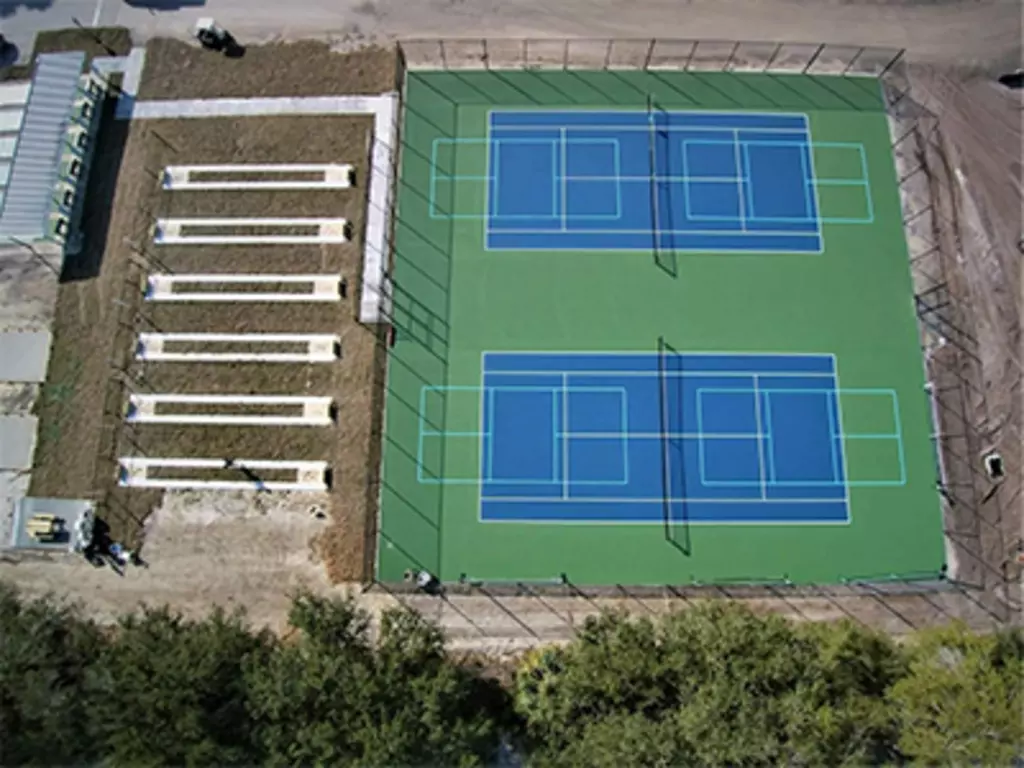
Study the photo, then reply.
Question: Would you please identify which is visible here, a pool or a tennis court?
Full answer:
I can see a tennis court in this picture.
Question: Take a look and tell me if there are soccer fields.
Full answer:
No, I can see no soccer field in this picture.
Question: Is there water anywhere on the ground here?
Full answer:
No, there is no water in the image.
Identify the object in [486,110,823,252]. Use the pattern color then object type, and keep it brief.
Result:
blue tennis court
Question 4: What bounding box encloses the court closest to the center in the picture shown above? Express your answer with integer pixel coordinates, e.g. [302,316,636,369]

[419,387,628,483]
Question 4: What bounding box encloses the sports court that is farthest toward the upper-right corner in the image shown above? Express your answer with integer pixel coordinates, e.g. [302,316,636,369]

[683,141,874,221]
